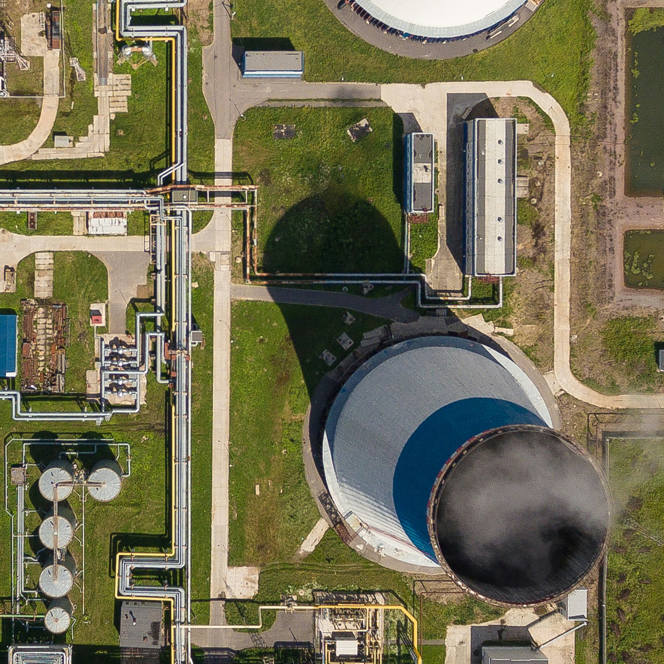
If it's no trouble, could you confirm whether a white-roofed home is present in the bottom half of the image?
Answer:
Yes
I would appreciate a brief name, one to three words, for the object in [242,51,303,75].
building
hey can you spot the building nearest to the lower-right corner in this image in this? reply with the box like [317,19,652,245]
[557,583,588,620]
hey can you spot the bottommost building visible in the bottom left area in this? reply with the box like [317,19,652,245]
[120,601,162,648]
